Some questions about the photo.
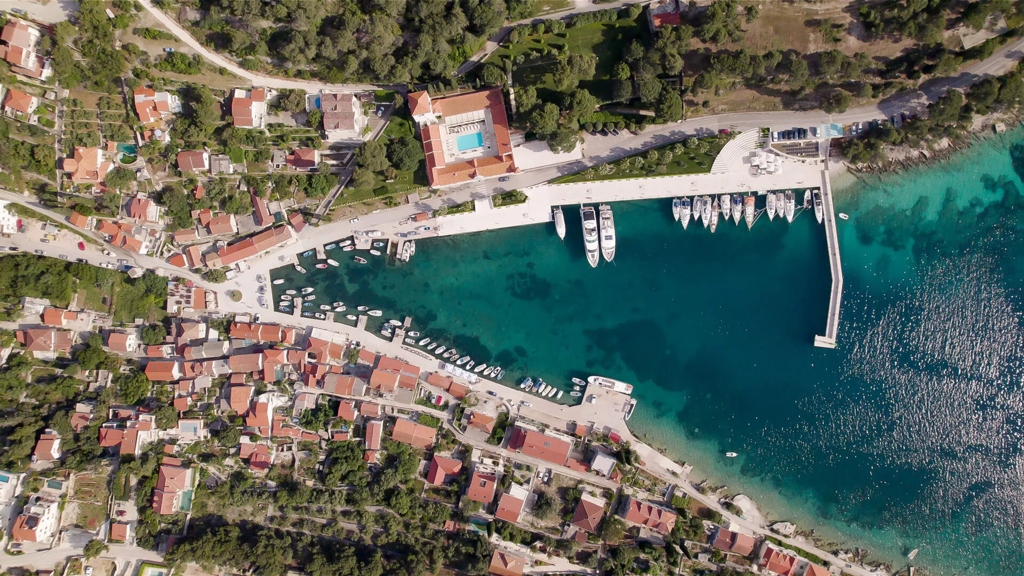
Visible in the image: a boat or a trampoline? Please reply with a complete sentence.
This aerial view contains a boat.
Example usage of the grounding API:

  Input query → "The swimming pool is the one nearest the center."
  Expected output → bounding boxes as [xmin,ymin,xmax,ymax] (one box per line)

[455,131,485,152]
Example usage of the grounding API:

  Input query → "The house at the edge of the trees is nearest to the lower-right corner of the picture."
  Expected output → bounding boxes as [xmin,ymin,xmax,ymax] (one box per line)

[755,540,831,576]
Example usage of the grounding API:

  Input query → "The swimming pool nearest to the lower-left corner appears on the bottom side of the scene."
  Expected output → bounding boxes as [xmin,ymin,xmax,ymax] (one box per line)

[46,479,66,491]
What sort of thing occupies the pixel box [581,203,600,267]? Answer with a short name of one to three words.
boat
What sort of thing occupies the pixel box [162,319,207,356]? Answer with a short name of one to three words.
house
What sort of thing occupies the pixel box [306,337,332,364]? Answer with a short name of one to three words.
building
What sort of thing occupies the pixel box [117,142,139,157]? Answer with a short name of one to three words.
swimming pool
